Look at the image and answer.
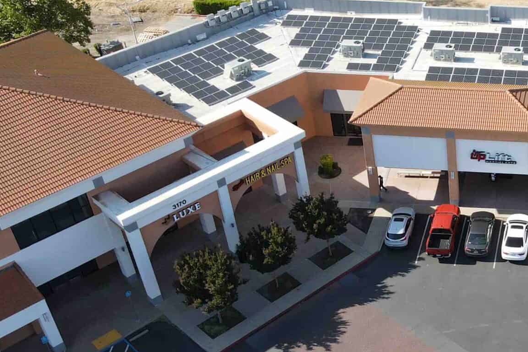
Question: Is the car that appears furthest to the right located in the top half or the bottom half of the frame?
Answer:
bottom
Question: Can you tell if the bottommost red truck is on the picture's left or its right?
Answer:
right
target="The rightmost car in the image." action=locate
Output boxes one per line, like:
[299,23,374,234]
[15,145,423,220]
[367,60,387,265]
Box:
[503,214,528,261]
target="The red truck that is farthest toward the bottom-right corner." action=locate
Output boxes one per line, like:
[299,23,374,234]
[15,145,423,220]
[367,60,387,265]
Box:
[427,205,460,258]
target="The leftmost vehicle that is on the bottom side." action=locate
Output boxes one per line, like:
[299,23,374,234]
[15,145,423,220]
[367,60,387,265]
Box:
[384,206,419,248]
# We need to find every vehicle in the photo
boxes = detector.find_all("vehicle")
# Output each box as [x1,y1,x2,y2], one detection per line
[384,206,419,248]
[503,214,528,261]
[465,211,497,258]
[427,205,460,258]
